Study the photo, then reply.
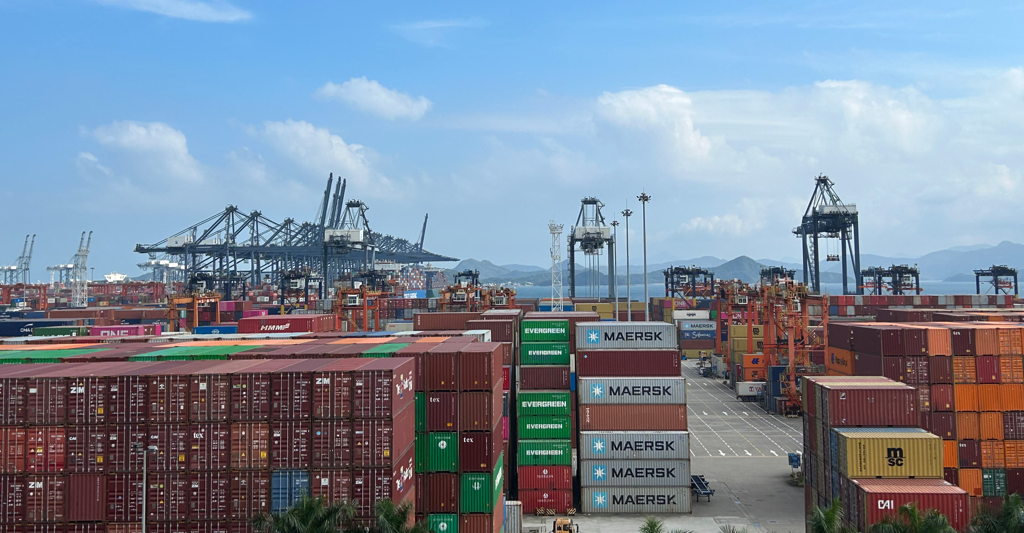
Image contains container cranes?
Yes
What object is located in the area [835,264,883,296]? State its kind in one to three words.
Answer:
container crane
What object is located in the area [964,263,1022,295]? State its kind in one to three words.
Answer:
container crane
